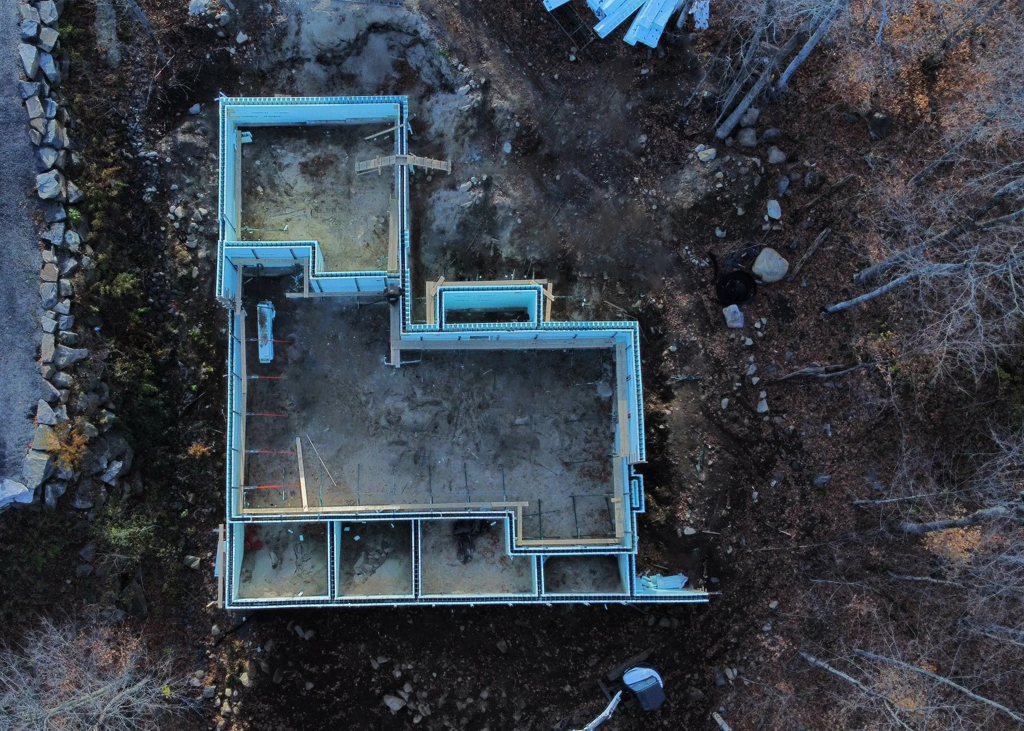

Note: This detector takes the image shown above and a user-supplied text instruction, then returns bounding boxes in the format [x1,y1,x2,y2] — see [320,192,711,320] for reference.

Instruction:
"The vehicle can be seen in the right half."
[582,653,665,731]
